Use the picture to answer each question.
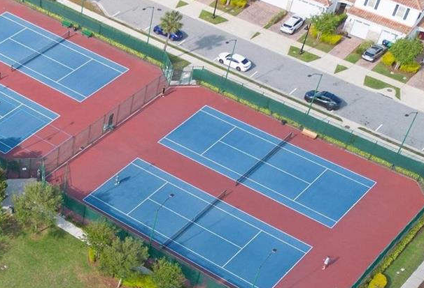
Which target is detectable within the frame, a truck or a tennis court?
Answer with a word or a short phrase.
tennis court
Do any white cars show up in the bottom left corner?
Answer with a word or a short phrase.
No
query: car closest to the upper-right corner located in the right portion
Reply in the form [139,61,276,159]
[362,46,386,64]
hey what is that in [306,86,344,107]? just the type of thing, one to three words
car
